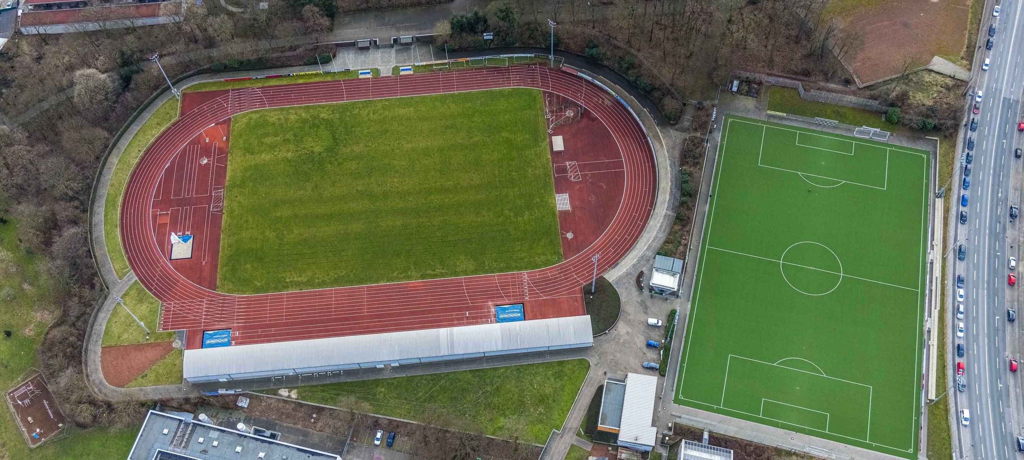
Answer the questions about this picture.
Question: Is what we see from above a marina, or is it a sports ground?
sports ground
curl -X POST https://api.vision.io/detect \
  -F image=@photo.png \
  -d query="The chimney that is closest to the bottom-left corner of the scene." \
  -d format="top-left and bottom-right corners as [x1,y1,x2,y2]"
[198,412,214,425]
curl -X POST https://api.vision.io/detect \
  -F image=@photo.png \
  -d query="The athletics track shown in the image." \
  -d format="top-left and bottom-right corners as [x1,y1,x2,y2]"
[119,65,655,351]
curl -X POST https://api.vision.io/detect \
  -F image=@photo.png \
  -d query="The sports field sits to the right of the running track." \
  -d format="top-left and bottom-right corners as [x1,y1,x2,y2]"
[673,114,931,460]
